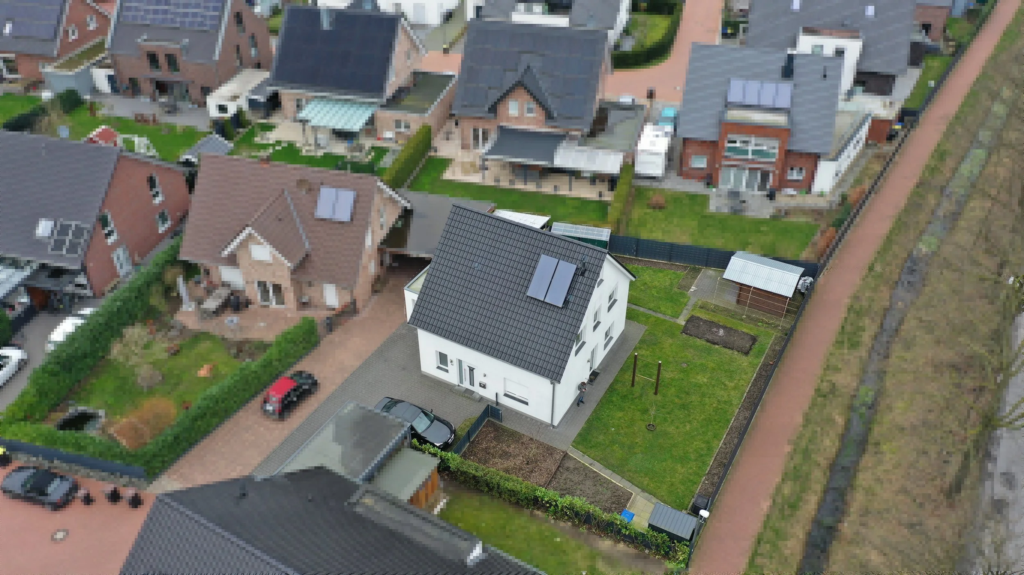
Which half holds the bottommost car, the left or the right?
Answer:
left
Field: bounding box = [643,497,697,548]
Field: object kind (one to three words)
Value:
shed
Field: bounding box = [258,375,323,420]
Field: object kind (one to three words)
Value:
car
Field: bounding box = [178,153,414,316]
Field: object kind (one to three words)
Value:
house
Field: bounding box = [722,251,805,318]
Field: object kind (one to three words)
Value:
shed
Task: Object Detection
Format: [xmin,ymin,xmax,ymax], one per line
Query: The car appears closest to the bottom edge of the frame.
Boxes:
[0,468,89,515]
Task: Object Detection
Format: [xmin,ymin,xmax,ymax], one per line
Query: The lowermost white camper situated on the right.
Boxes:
[636,128,672,176]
